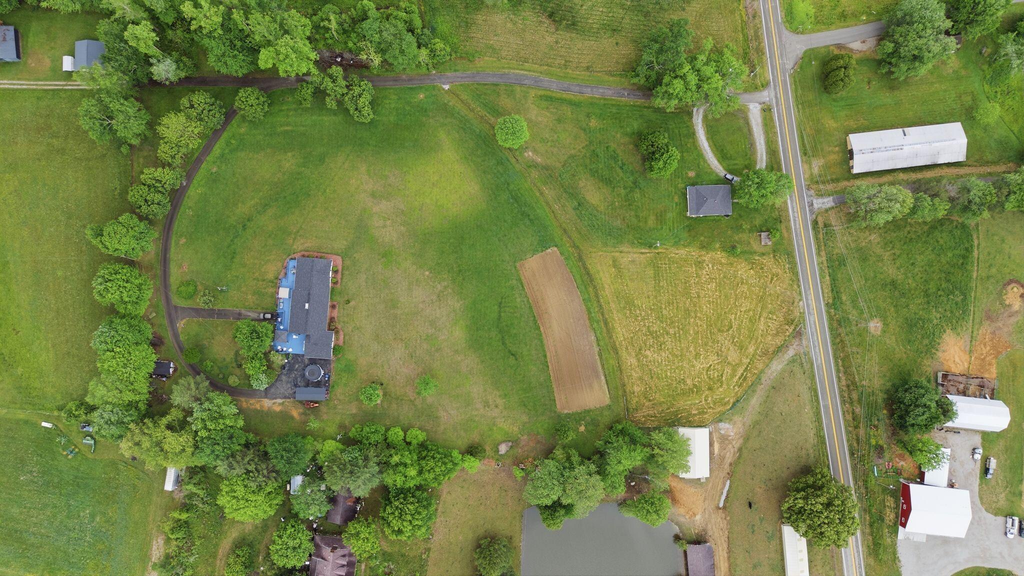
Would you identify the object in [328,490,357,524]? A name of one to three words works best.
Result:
house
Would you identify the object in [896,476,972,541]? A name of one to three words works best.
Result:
barn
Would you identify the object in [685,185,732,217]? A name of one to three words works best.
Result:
house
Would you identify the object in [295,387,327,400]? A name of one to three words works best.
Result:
shed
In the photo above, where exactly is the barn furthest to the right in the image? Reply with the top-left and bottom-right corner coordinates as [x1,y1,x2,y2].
[942,395,1011,432]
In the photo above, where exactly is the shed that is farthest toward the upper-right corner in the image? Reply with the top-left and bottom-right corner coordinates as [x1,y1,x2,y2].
[845,122,967,174]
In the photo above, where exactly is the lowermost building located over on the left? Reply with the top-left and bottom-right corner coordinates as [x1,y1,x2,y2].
[312,534,355,576]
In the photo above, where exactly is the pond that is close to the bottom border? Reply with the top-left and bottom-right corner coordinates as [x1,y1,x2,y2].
[520,501,687,576]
